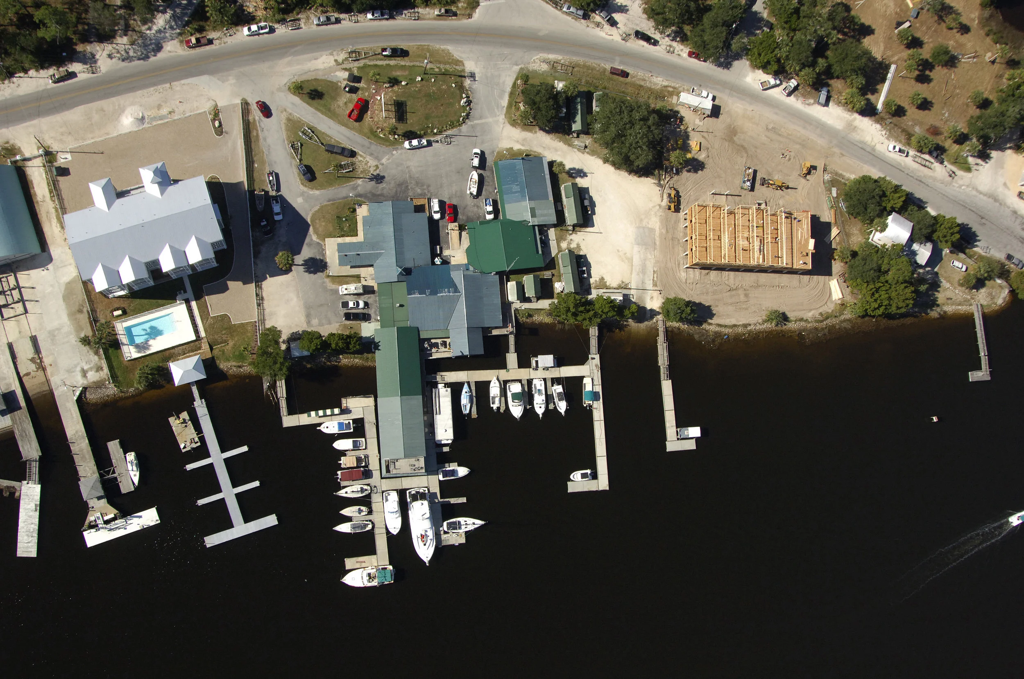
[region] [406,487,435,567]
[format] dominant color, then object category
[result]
white boat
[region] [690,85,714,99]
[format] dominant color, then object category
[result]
white vehicle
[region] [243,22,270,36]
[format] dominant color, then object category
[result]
white vehicle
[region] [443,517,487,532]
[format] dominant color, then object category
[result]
white boat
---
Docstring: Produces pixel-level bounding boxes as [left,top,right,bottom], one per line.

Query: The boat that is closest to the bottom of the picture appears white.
[338,565,397,588]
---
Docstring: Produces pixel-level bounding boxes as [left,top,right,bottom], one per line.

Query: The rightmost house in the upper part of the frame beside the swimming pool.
[63,161,231,298]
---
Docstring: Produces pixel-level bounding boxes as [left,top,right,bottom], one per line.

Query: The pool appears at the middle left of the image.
[115,302,196,360]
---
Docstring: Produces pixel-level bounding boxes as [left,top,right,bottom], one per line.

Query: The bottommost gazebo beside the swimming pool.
[169,355,208,386]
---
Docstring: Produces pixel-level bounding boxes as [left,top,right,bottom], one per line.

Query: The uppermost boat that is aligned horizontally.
[528,355,557,368]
